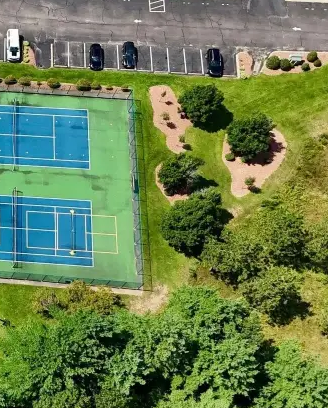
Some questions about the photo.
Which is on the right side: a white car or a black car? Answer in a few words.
black car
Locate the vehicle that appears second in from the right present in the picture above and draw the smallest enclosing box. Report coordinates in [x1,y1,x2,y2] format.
[121,41,137,69]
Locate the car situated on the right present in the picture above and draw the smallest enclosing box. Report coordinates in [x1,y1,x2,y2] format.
[206,48,223,77]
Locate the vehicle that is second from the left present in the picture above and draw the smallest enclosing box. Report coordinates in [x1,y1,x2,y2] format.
[89,44,103,72]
